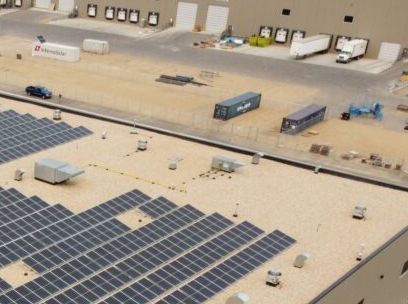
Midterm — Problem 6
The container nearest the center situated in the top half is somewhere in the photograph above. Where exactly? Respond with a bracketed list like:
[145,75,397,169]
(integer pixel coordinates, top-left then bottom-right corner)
[213,91,261,121]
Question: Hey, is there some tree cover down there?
No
